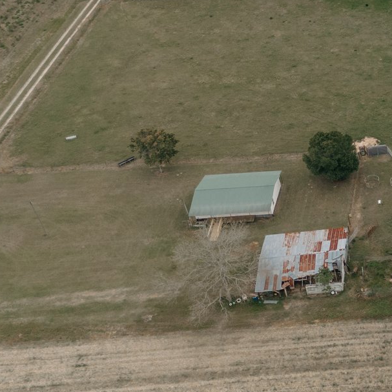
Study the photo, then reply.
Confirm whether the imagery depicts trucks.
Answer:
No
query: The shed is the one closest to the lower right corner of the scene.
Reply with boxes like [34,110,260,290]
[256,227,352,307]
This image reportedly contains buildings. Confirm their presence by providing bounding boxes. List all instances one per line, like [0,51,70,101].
[256,227,352,307]
[186,172,285,249]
